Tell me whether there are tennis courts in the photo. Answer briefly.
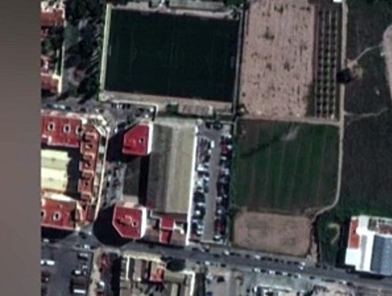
No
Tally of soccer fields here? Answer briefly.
1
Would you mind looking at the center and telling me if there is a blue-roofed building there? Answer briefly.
No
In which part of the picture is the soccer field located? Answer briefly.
top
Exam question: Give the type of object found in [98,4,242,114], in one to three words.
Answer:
soccer field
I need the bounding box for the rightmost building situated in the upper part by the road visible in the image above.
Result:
[178,104,213,117]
